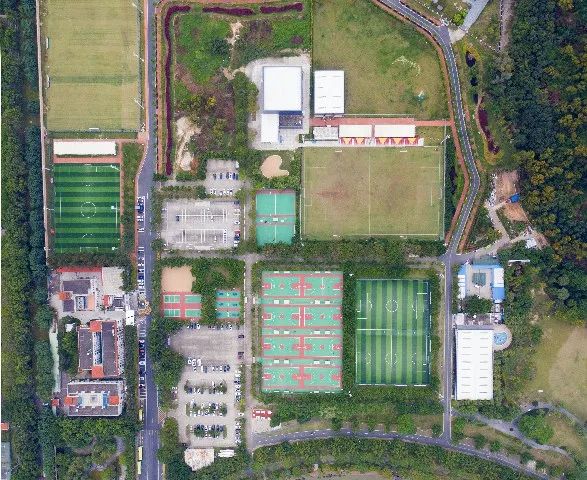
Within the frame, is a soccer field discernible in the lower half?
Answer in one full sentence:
Yes, I can see a soccer field in the lower half.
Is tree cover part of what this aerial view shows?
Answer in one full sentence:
Yes, there is tree cover in the image.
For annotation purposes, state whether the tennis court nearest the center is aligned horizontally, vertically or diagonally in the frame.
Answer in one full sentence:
The tennis court nearest the center is oriented horizontally.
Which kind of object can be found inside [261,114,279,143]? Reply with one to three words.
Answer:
building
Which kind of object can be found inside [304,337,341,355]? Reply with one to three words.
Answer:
basketball court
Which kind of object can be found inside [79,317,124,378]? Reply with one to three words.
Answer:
building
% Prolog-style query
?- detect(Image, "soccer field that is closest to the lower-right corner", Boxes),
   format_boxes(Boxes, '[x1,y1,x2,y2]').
[355,280,431,386]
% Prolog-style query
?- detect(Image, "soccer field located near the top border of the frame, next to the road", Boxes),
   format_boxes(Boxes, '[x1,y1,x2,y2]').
[48,0,137,131]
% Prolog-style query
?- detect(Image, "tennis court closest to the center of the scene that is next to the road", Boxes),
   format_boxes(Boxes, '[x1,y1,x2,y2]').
[257,225,296,245]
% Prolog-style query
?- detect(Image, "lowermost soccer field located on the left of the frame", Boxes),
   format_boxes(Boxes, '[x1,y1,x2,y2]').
[54,163,120,253]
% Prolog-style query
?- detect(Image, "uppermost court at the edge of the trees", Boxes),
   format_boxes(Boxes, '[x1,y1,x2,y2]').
[257,194,296,214]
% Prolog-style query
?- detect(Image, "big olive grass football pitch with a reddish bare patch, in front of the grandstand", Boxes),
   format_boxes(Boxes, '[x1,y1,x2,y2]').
[302,146,444,240]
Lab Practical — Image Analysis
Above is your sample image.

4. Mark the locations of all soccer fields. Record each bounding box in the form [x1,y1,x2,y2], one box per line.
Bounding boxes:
[355,280,431,386]
[302,146,444,240]
[54,163,120,253]
[48,0,137,131]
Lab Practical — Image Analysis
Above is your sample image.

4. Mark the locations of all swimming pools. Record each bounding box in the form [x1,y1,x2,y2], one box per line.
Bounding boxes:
[494,325,512,350]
